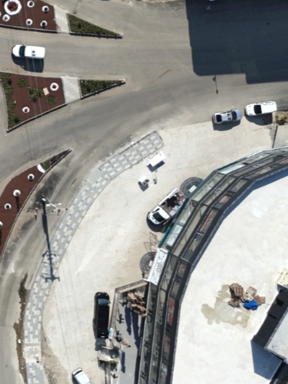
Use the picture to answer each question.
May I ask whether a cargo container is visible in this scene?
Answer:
No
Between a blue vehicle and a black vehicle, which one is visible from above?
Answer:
black vehicle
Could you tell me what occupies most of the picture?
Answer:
paved ground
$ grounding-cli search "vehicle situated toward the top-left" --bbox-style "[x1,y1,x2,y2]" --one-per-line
[11,44,46,60]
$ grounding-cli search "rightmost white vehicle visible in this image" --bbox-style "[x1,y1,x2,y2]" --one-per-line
[243,100,279,117]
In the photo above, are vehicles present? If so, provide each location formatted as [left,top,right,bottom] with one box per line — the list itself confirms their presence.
[70,369,90,384]
[150,189,187,224]
[93,293,112,338]
[243,100,279,117]
[11,44,46,60]
[210,109,242,125]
